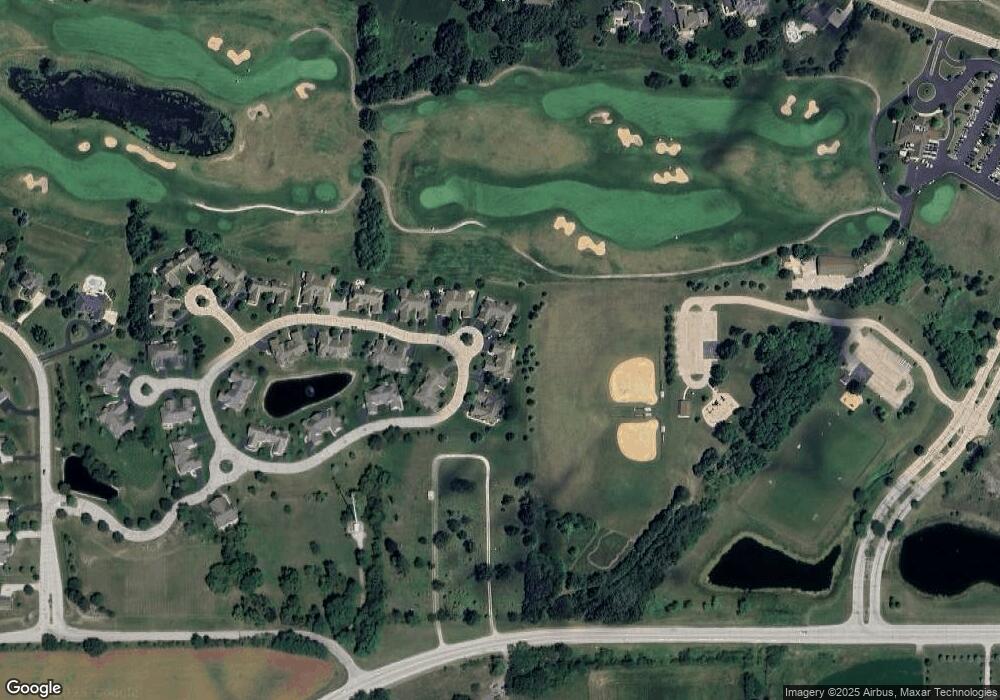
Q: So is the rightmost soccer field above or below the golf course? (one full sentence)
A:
Relative to the golf course, the rightmost soccer field lies below it.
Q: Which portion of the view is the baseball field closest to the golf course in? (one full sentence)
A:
The baseball field closest to the golf course is in the center part of the image.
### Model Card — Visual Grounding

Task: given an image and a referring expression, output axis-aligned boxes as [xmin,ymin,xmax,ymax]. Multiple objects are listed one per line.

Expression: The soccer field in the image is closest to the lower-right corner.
[748,406,886,534]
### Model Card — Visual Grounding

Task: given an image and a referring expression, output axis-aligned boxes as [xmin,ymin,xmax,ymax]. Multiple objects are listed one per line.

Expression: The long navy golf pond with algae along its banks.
[8,66,236,158]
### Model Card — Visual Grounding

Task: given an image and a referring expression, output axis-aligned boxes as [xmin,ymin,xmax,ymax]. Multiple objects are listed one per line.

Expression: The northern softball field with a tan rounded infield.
[540,300,662,408]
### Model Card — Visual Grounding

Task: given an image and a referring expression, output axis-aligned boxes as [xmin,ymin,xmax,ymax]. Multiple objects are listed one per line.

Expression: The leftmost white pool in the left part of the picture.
[84,275,106,294]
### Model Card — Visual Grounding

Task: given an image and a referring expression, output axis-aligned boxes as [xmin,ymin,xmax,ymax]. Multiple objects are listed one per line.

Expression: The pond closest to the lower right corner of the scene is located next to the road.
[898,522,1000,597]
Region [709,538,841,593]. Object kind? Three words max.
pond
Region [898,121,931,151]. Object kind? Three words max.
building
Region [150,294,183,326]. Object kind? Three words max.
house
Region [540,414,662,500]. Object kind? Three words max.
baseball field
